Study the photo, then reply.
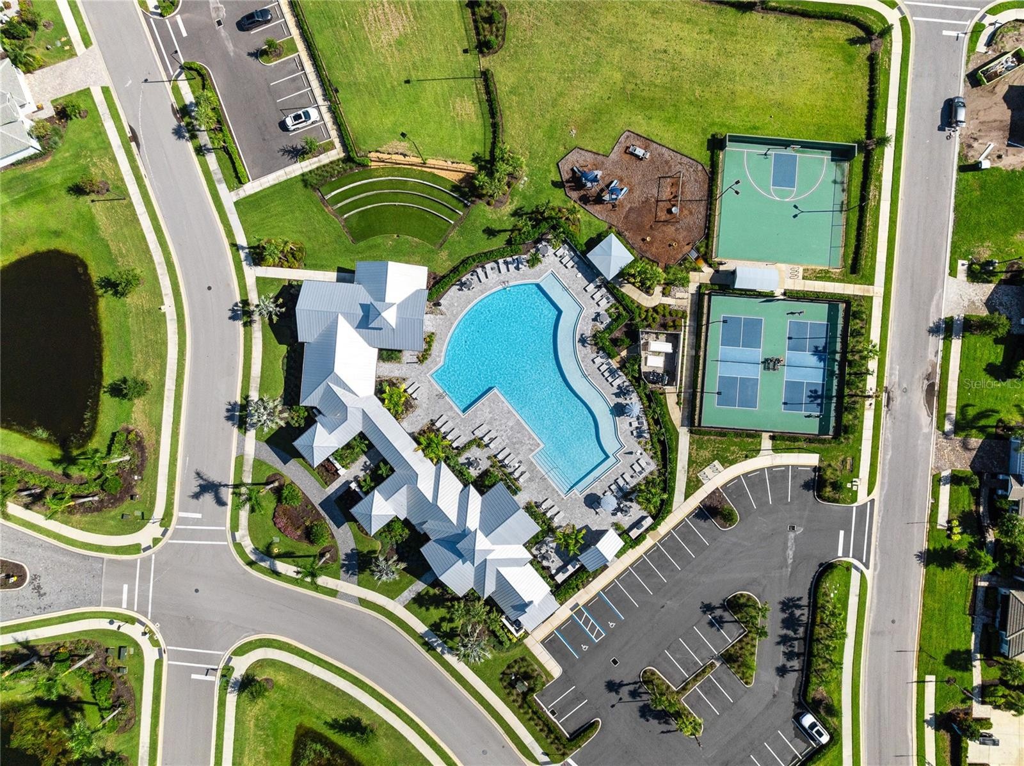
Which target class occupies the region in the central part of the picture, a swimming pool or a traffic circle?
swimming pool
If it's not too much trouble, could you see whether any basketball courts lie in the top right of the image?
Yes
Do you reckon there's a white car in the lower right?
Yes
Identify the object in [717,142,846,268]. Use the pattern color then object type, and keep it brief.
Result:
green basketball court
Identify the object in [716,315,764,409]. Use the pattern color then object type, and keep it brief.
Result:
blue sports court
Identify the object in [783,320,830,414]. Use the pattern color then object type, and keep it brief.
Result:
blue sports court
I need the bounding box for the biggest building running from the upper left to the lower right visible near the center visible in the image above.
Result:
[292,261,560,632]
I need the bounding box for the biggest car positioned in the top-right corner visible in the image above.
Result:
[949,93,970,128]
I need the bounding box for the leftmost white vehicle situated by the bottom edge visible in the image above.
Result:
[798,712,832,746]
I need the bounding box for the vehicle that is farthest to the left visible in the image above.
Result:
[236,5,273,29]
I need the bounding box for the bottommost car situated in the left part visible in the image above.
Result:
[281,105,319,129]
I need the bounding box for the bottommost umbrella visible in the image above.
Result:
[600,494,617,510]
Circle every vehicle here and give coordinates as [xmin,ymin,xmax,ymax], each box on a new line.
[630,142,651,158]
[798,712,832,746]
[281,105,319,129]
[236,5,273,29]
[949,93,970,128]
